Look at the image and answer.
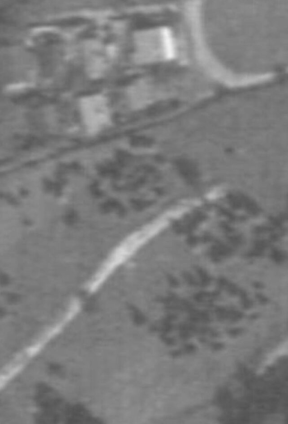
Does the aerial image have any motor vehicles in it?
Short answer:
No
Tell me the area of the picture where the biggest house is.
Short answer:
top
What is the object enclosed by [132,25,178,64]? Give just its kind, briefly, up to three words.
house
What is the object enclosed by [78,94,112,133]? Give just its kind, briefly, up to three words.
shed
